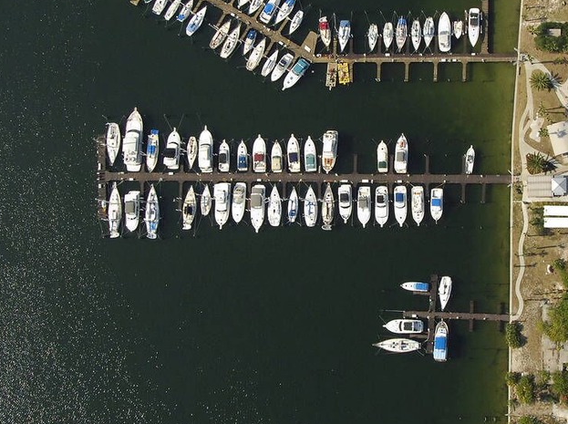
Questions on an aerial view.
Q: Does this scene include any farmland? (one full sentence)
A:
No, the scene doesn't show any farmland.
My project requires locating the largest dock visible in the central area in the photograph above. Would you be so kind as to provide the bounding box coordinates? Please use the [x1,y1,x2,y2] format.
[96,136,512,219]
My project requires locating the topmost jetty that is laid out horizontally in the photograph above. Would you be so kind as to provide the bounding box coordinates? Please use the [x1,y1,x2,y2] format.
[130,0,518,82]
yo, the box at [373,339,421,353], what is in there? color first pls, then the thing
white boat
